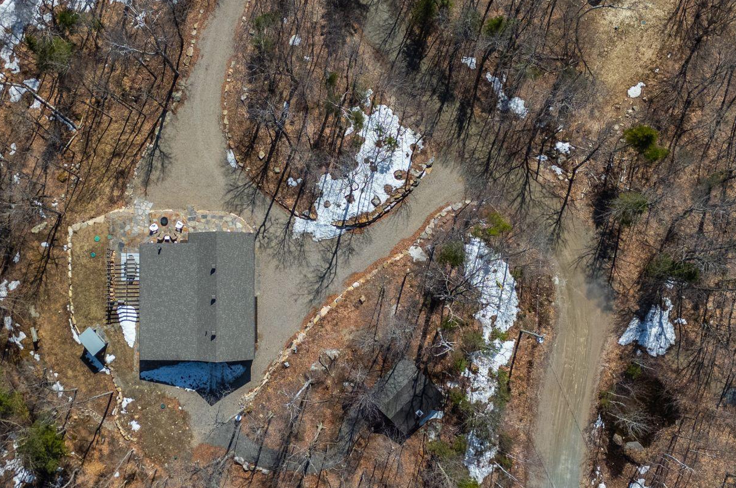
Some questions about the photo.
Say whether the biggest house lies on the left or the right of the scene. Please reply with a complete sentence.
The biggest house sits on the left side.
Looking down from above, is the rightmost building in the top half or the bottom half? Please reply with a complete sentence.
The rightmost building sits in the bottom half of the picture.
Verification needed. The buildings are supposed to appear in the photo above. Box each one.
[365,359,442,434]
[78,327,111,355]
[139,230,256,367]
